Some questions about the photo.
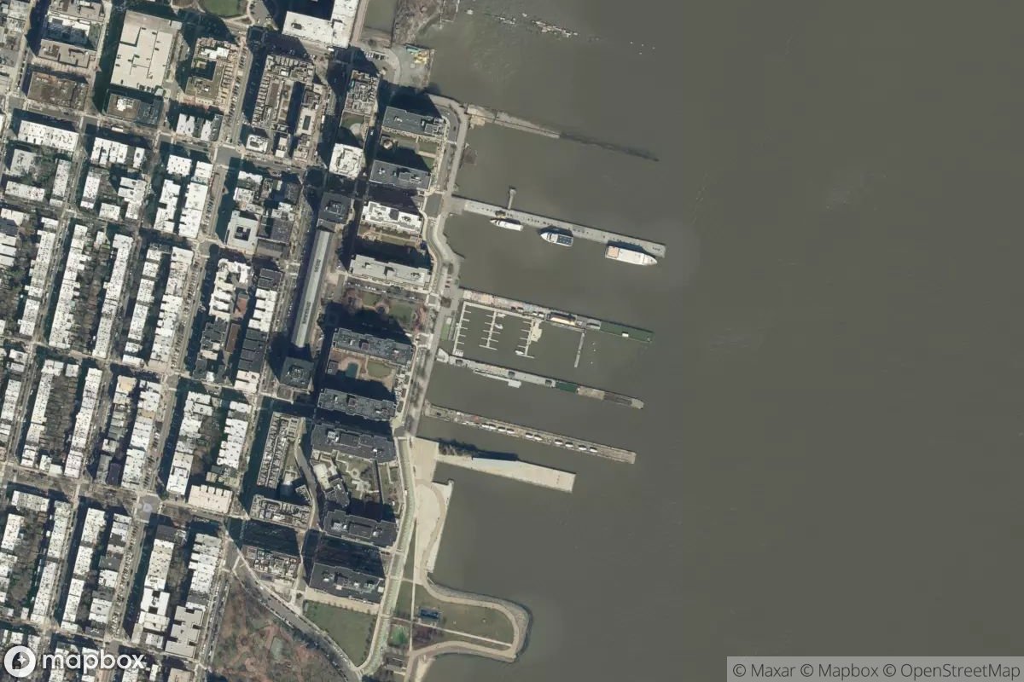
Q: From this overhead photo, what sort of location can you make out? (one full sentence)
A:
This image shows a port.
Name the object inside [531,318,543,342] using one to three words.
ship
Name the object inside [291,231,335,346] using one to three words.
shed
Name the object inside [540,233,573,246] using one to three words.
vessel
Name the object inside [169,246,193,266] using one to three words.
building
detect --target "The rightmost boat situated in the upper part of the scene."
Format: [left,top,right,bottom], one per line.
[605,247,657,264]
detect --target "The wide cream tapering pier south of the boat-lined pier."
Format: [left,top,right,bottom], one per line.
[436,455,576,492]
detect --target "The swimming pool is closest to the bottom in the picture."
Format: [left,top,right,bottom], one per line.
[345,362,358,377]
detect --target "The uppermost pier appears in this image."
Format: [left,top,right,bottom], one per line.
[467,105,563,138]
